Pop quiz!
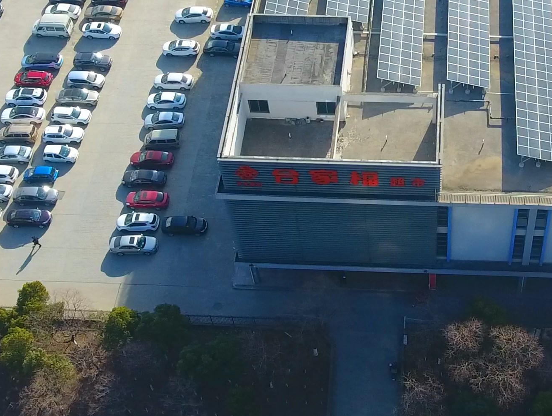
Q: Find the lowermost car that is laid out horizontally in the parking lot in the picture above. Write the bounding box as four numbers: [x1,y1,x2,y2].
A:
[110,232,160,255]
